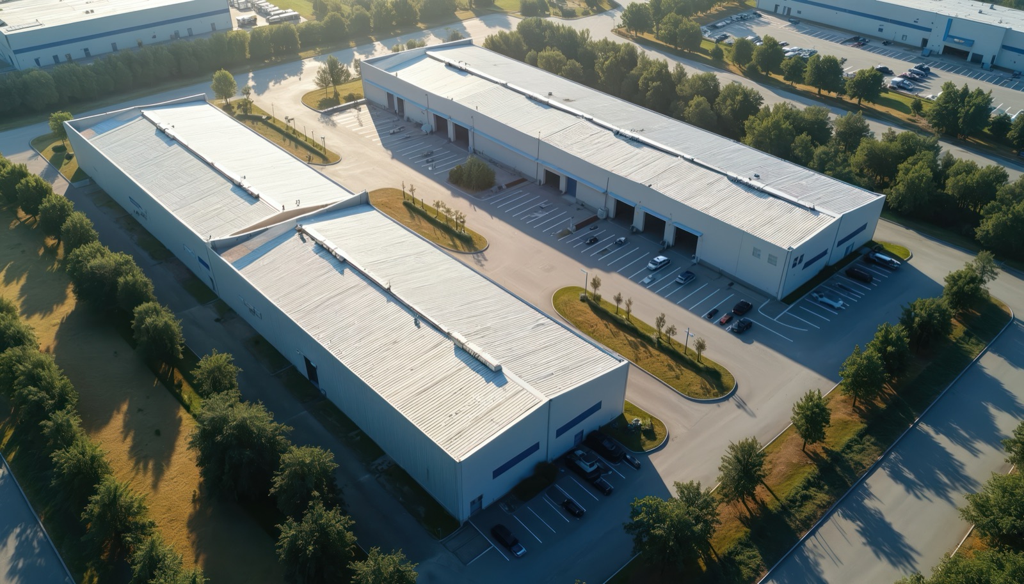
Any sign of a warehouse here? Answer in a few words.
Yes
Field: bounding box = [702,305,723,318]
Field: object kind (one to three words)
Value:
vehicle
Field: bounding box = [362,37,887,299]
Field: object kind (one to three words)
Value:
warehouse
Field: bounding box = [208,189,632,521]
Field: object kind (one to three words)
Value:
warehouse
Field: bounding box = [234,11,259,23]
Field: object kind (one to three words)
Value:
vehicle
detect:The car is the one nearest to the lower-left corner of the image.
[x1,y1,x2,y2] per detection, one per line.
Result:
[484,515,531,559]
